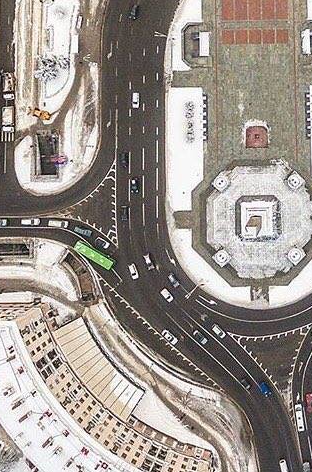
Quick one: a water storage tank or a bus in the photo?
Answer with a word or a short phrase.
bus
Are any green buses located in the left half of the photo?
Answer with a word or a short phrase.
Yes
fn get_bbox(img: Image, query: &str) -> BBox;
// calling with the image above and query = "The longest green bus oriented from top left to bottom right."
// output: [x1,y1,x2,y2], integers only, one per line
[70,241,114,274]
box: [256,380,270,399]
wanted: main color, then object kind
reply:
blue vehicle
